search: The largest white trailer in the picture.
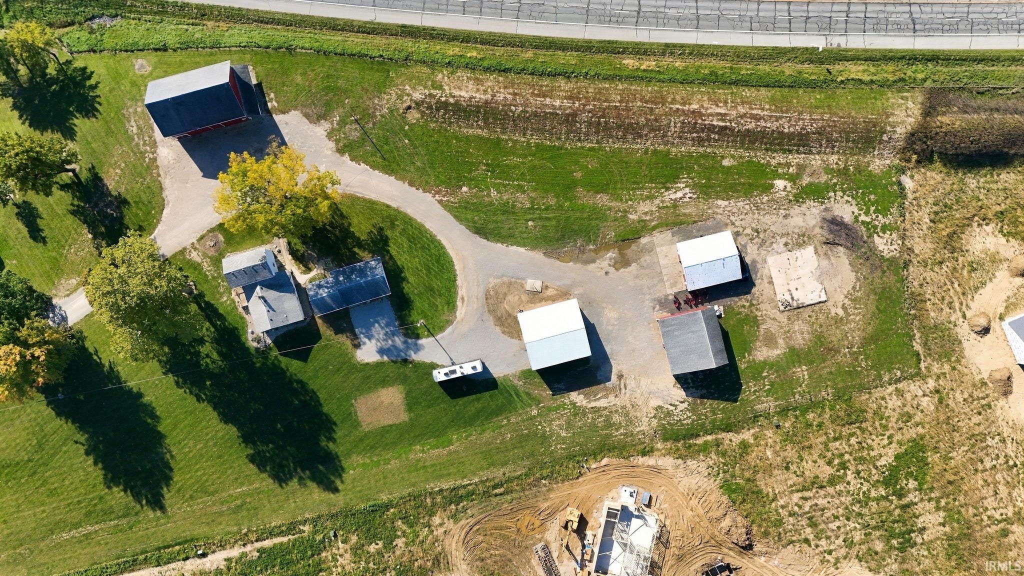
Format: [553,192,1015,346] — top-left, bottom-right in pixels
[431,359,484,381]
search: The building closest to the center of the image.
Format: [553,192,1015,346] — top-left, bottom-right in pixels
[518,298,591,370]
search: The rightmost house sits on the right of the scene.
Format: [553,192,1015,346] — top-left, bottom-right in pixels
[995,310,1024,368]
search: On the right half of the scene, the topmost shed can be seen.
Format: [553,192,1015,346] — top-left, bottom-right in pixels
[674,230,743,291]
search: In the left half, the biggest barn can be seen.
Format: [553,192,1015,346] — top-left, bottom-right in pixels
[143,60,265,141]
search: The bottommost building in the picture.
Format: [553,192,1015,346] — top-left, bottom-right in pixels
[593,499,659,576]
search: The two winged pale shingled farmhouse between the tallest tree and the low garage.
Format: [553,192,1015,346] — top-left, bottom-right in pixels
[222,248,305,334]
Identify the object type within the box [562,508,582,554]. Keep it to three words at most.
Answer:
work vehicle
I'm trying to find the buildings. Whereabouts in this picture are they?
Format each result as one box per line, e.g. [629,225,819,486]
[655,305,728,375]
[143,60,265,141]
[222,248,305,334]
[518,298,591,370]
[995,310,1024,368]
[674,230,743,291]
[593,499,659,576]
[308,257,391,316]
